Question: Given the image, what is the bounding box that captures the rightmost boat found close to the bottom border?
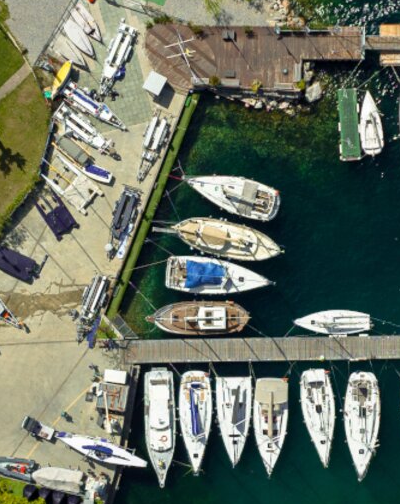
[340,361,381,485]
